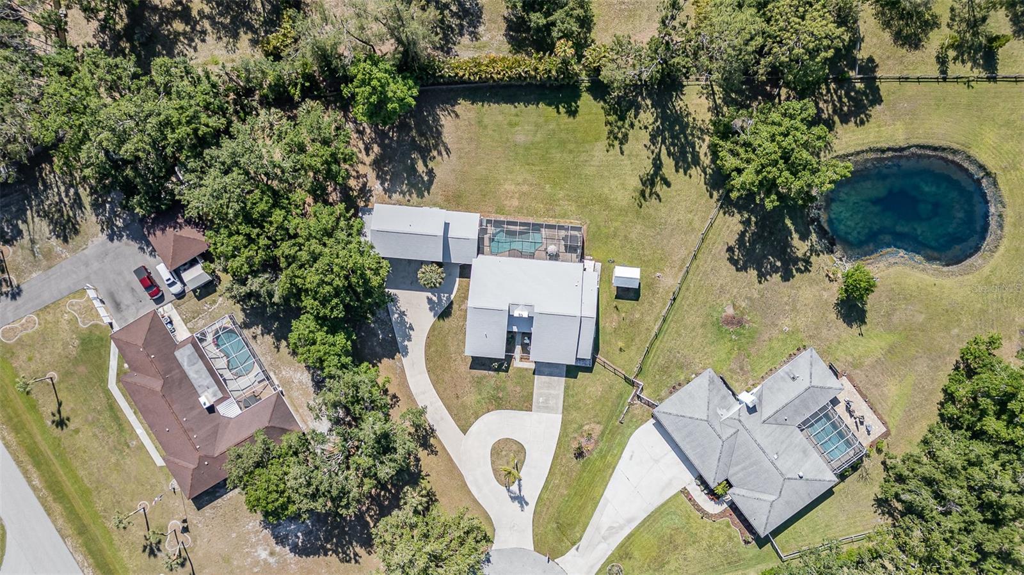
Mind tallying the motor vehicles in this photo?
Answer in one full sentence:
Altogether the scene contains 2 motor vehicles.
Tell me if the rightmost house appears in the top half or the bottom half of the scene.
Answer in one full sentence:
The bottom half of the photo is where the rightmost house is.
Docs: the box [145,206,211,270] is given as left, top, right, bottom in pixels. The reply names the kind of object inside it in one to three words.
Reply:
building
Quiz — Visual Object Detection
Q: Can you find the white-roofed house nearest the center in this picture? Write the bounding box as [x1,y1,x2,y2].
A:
[465,255,597,367]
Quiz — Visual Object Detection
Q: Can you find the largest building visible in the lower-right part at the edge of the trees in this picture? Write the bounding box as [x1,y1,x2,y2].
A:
[652,347,844,537]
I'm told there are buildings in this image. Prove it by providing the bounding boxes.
[369,204,480,264]
[145,206,211,270]
[110,309,305,499]
[652,347,844,537]
[182,264,213,290]
[613,266,642,288]
[465,255,597,367]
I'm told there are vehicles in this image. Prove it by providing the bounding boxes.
[154,263,185,296]
[133,264,164,301]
